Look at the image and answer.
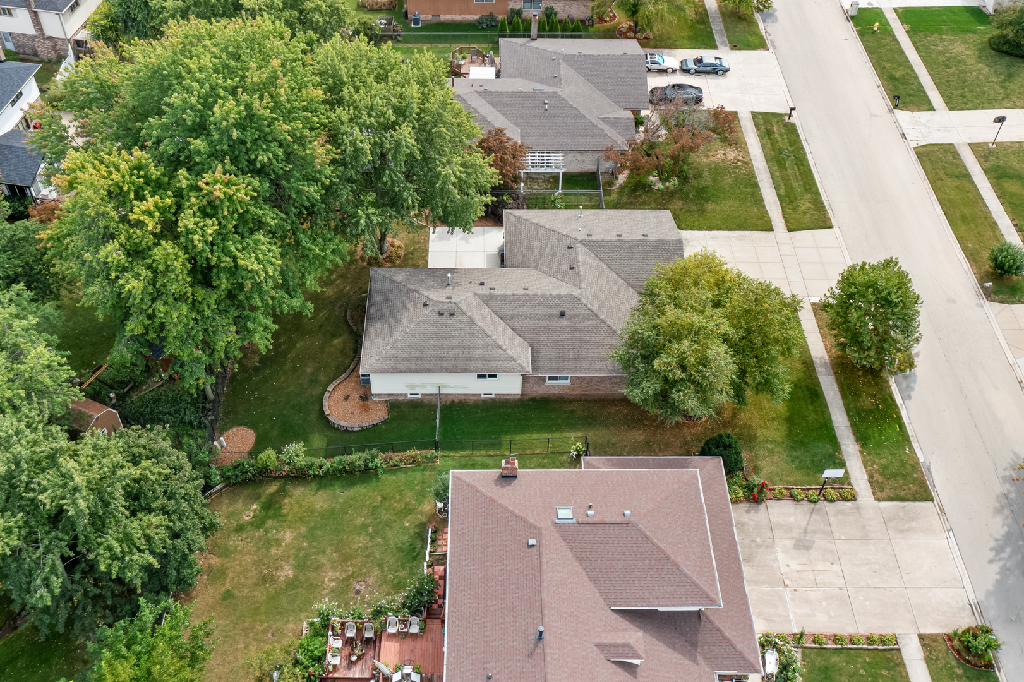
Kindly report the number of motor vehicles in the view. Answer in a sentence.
The picture shows 3 motor vehicles.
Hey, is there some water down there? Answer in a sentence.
No, the scene doesn't show any water.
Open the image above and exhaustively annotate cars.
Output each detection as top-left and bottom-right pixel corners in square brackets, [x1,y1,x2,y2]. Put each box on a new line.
[649,80,704,105]
[679,54,731,76]
[646,52,680,73]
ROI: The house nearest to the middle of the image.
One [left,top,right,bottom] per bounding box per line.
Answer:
[359,206,684,399]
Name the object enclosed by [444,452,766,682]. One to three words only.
house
